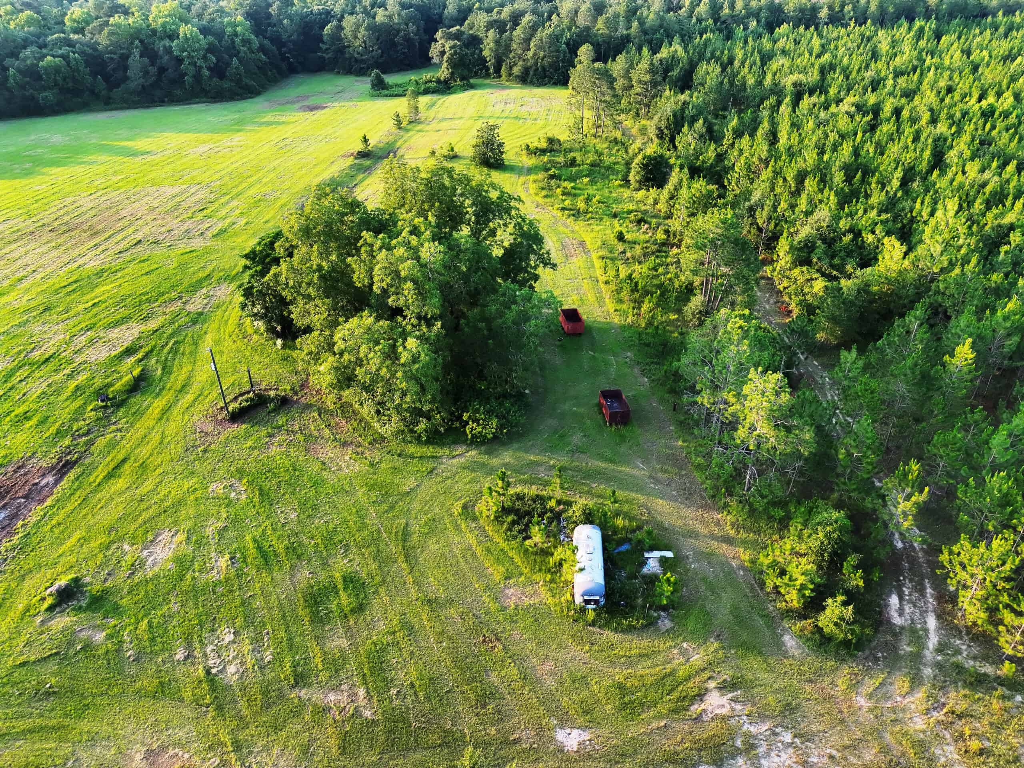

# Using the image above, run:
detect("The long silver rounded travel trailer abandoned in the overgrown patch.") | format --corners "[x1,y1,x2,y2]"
[572,521,605,618]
